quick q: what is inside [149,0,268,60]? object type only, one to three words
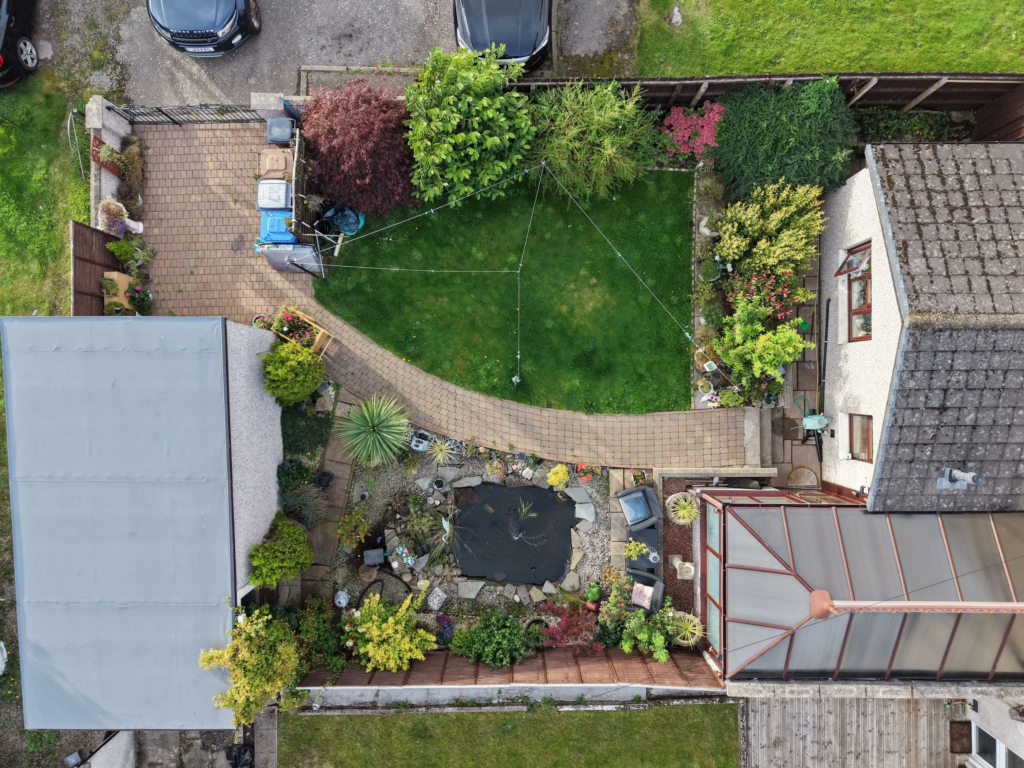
car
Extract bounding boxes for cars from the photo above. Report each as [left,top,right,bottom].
[452,0,553,78]
[0,0,41,99]
[149,0,268,60]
